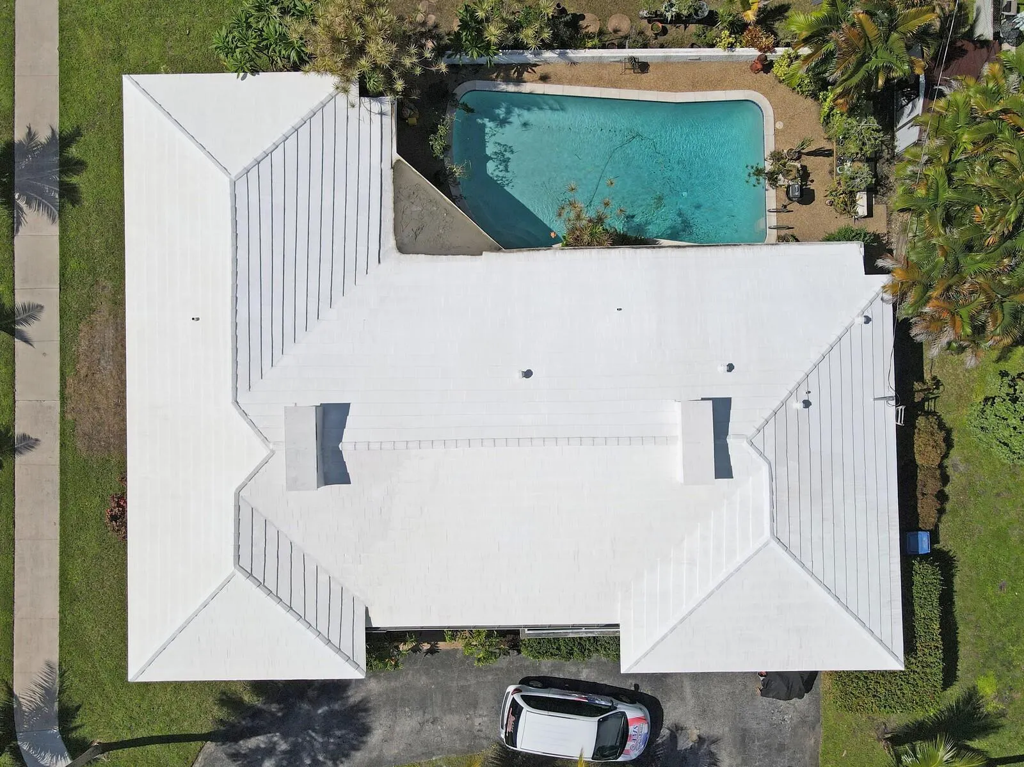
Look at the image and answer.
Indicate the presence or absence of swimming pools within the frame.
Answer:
Yes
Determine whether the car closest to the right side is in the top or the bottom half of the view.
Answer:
bottom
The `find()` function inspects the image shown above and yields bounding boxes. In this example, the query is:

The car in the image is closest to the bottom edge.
[501,678,649,767]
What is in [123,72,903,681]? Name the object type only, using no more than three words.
house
